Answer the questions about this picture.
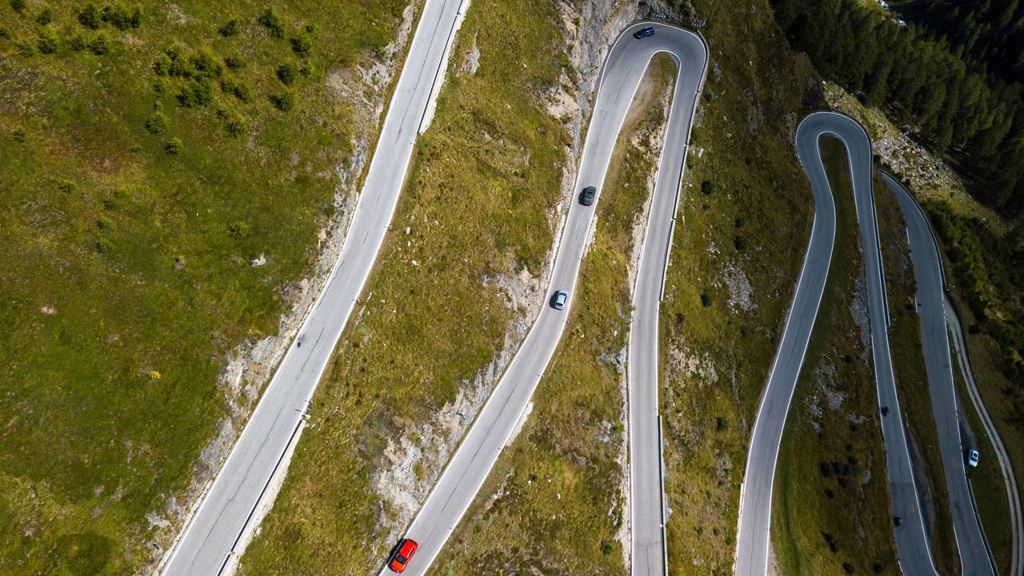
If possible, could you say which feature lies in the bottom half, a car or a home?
car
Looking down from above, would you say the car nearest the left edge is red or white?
red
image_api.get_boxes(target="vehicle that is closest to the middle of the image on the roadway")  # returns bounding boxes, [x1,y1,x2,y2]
[552,290,567,310]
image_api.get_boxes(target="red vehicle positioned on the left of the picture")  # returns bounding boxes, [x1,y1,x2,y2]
[389,538,415,571]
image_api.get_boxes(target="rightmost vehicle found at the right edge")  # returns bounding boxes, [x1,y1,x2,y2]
[966,448,979,469]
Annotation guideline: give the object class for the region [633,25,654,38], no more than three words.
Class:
vehicle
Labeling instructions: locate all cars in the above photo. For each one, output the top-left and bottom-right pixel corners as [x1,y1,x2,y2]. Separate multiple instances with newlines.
[633,25,654,38]
[552,290,567,310]
[581,187,594,205]
[966,448,979,469]
[389,538,415,571]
